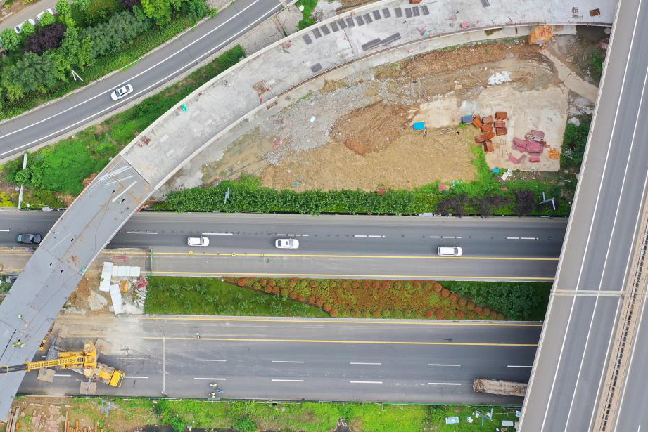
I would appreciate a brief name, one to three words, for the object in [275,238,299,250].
vehicle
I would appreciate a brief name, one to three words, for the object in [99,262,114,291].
building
